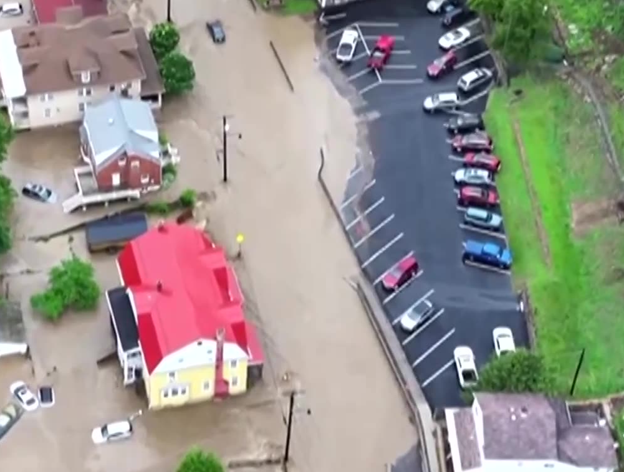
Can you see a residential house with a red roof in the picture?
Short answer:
Yes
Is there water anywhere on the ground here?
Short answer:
Yes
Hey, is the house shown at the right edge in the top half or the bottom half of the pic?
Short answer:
bottom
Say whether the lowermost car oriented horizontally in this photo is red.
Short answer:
No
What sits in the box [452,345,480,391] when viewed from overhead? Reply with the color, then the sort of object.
white truck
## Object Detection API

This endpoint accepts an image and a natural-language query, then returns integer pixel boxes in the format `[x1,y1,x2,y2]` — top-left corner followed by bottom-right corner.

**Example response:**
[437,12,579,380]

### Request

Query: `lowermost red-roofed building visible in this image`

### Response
[105,221,269,408]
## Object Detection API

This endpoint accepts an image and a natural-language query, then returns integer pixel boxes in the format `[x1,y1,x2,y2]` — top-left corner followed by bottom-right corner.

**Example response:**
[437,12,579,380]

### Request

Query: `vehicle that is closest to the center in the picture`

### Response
[382,256,420,289]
